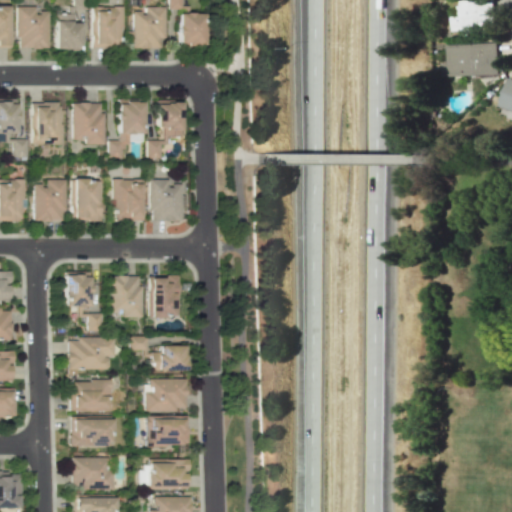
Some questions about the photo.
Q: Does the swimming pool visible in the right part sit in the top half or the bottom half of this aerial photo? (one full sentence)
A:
The swimming pool visible in the right part is in the top half of the image.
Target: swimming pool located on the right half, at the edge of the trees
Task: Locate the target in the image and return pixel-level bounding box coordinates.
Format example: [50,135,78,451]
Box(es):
[450,92,472,112]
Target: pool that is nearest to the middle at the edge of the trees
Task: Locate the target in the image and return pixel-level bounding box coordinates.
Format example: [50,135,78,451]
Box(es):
[157,319,184,332]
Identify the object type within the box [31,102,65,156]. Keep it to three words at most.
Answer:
house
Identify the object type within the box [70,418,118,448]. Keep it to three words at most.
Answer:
house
